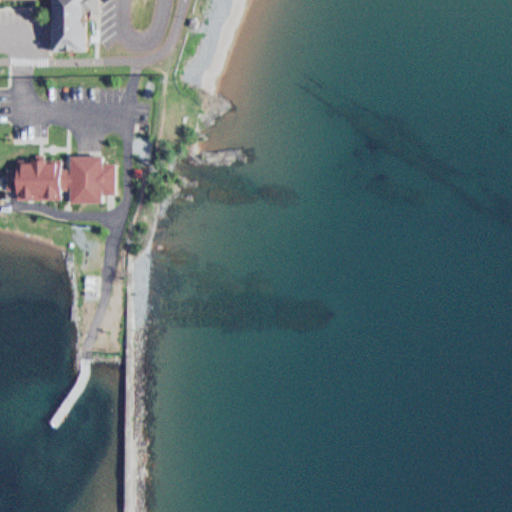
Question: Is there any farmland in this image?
No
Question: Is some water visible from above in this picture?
Yes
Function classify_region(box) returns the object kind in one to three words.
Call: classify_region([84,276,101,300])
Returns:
shed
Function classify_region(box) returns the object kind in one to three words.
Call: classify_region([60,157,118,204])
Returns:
house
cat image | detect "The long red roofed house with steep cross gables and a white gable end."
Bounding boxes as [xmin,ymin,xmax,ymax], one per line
[11,156,62,206]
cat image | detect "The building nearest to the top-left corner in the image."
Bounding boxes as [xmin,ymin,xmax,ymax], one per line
[50,0,89,52]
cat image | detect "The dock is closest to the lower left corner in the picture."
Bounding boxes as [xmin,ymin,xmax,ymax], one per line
[52,357,92,428]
